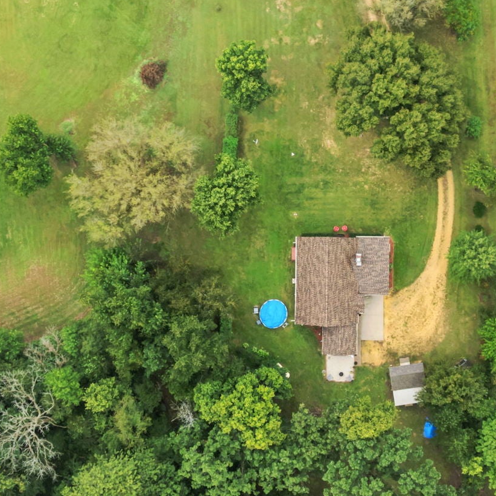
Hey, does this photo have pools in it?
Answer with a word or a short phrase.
Yes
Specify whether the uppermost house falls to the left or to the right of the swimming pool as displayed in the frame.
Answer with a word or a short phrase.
to its right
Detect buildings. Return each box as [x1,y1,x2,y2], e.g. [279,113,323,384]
[294,238,391,356]
[390,364,427,403]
